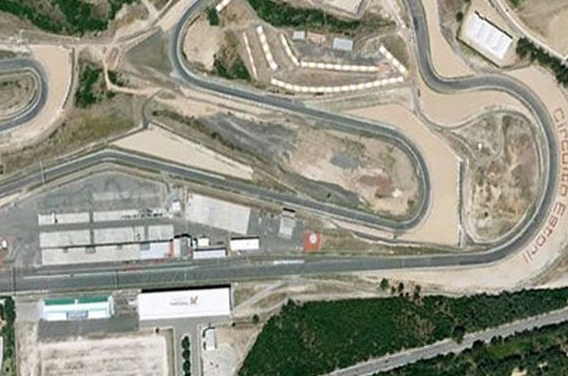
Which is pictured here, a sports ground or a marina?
sports ground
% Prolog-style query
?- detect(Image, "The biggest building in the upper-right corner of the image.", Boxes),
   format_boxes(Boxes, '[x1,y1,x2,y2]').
[464,15,513,58]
